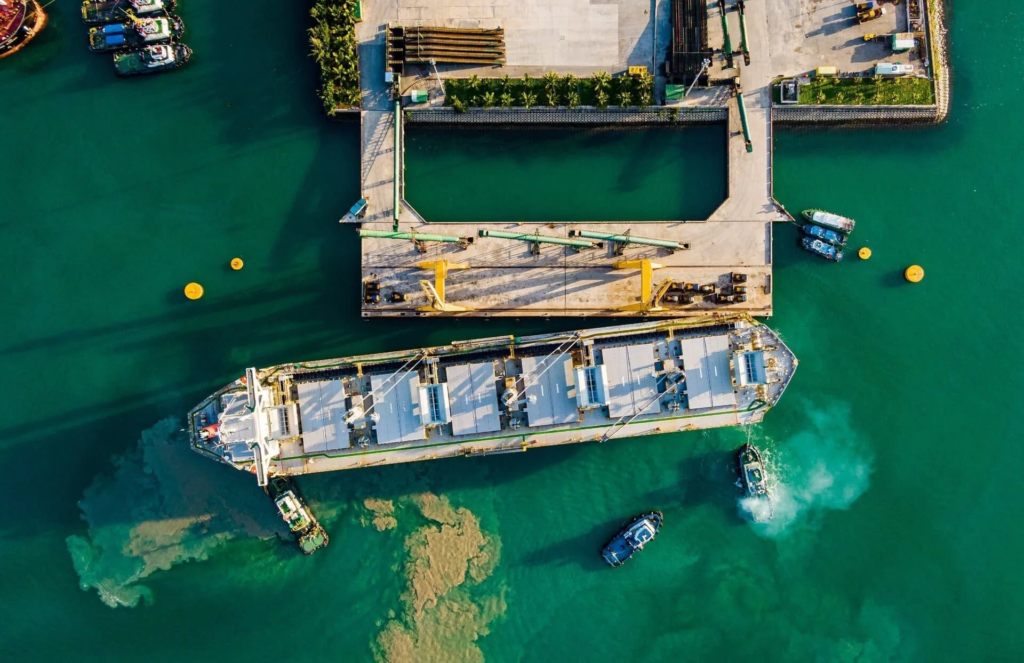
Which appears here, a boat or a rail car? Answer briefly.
boat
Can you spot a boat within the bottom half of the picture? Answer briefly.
Yes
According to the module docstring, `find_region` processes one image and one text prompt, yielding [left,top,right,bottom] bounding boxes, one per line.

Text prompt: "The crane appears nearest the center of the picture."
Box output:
[414,256,476,314]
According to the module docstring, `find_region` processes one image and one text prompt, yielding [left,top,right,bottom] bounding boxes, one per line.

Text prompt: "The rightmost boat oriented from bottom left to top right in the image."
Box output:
[599,511,664,570]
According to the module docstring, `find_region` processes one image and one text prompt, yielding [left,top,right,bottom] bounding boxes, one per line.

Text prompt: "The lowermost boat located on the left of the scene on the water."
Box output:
[268,476,330,558]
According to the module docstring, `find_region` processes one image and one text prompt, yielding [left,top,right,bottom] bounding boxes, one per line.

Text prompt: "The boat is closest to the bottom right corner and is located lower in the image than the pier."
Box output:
[740,442,774,523]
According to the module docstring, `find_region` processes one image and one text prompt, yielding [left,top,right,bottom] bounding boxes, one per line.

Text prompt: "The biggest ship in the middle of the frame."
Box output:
[185,311,799,486]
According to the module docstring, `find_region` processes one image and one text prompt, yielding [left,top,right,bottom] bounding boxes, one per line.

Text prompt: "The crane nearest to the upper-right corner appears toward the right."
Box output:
[608,256,675,314]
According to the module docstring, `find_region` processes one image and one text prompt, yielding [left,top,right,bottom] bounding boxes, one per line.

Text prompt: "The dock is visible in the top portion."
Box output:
[340,108,794,321]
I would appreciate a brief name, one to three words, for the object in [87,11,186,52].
boat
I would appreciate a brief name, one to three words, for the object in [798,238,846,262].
boat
